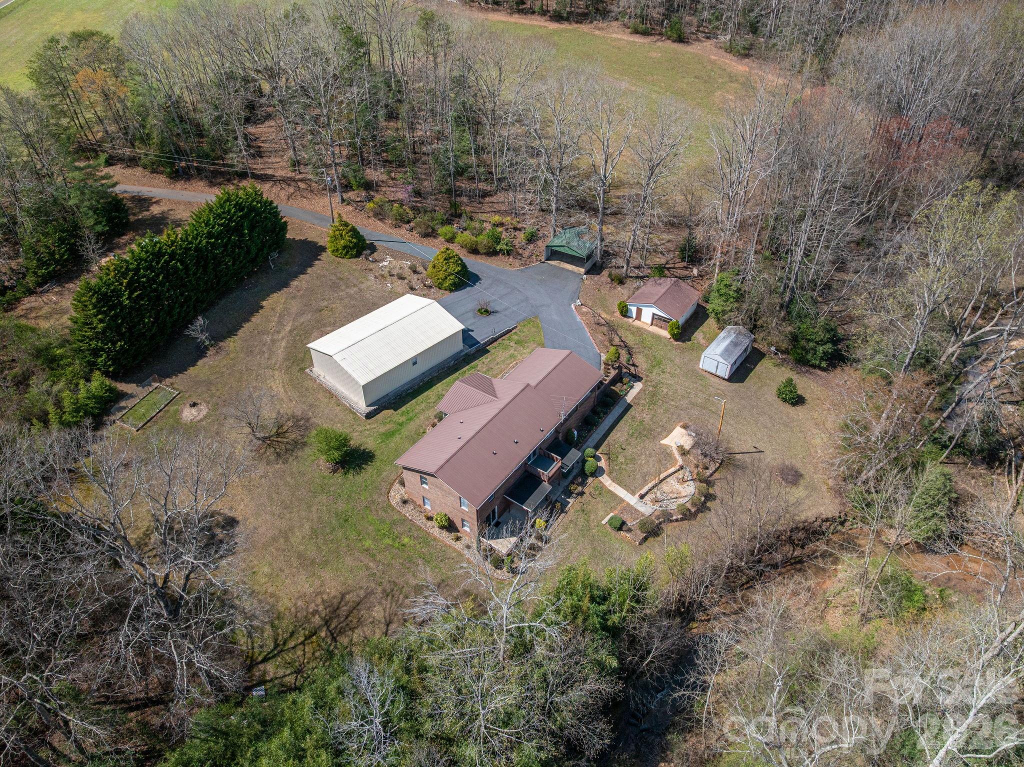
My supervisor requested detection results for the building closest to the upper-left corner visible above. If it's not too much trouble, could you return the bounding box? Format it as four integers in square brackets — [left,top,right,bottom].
[306,294,465,407]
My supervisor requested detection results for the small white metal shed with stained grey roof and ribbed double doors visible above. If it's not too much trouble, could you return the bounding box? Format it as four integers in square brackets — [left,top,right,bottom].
[699,325,755,378]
